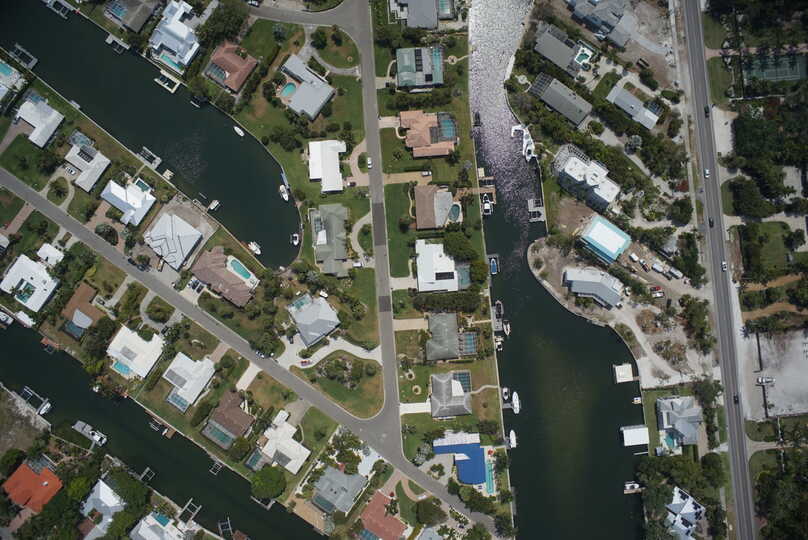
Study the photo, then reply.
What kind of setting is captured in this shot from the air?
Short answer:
residential area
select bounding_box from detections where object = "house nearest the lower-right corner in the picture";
[664,487,705,540]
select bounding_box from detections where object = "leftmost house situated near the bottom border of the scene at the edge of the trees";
[3,453,66,513]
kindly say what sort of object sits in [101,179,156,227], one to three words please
house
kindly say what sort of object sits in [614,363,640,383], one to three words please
building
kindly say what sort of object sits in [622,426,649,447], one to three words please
building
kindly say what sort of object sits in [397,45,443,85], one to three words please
house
